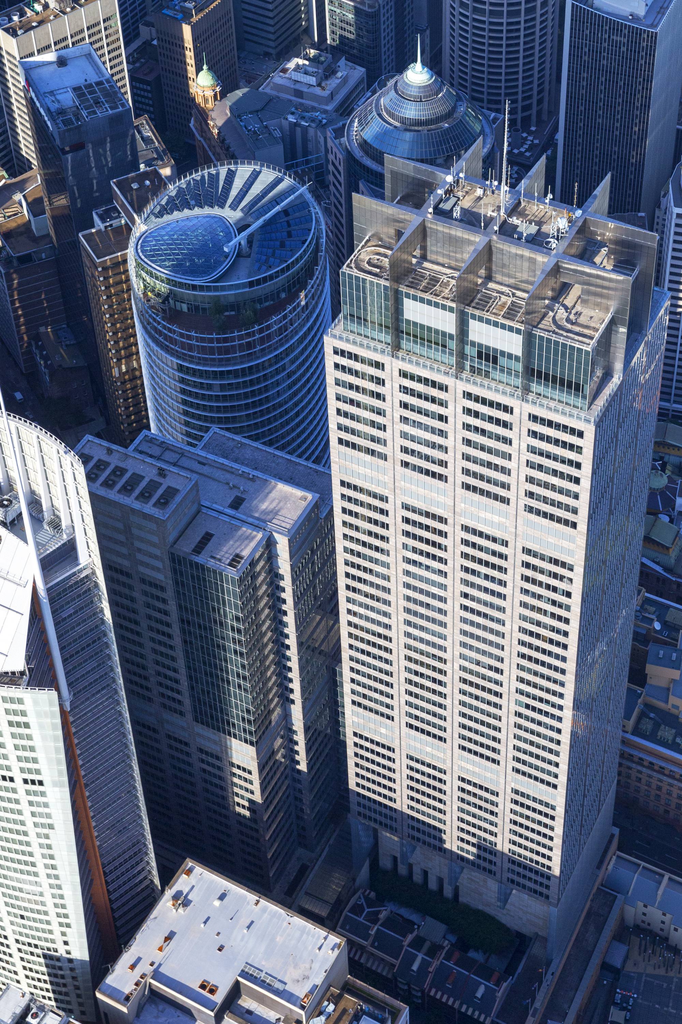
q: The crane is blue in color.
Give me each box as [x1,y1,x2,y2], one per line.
[218,176,316,261]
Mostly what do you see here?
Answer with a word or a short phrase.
buildings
